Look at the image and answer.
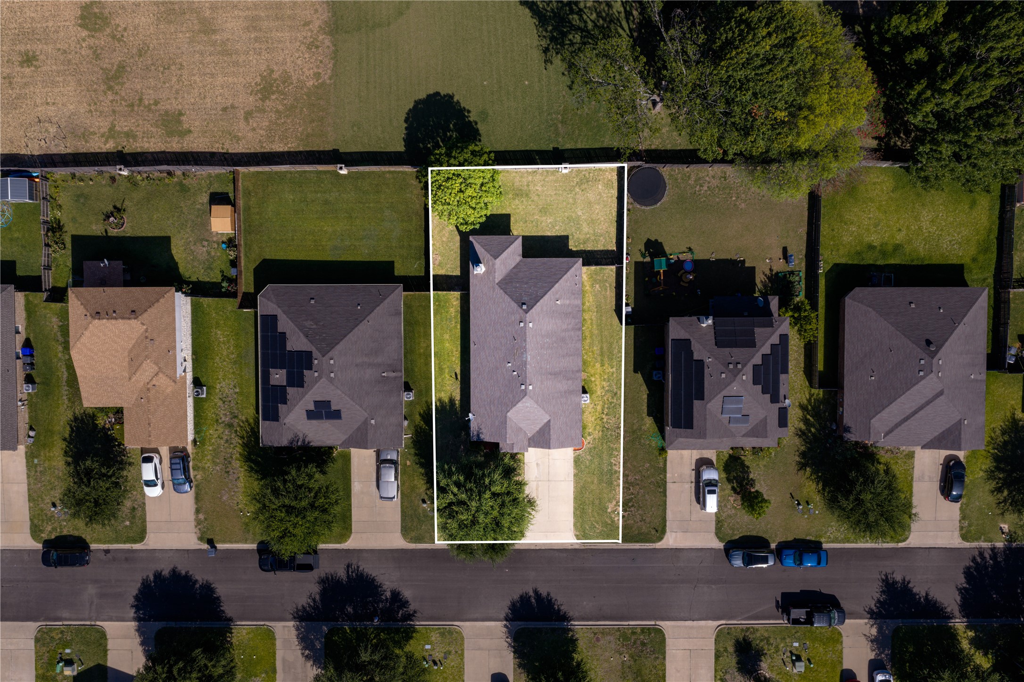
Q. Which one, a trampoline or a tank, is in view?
trampoline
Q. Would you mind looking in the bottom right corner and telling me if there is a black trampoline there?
No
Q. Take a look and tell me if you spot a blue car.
Yes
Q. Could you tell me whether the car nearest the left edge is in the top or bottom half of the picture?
bottom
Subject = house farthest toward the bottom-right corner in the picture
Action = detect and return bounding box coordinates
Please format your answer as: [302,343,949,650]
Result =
[837,286,988,451]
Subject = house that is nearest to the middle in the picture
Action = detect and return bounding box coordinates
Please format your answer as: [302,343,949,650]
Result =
[467,235,582,453]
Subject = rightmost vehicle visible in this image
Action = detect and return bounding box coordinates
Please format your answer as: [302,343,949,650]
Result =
[943,457,969,500]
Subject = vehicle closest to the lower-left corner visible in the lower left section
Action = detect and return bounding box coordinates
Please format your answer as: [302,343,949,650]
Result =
[38,547,90,571]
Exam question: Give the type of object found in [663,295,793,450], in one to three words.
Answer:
house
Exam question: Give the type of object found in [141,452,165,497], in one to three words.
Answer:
car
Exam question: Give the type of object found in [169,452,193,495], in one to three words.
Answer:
car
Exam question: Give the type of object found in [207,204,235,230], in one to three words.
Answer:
shed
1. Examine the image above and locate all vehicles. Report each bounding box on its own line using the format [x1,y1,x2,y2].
[255,550,318,575]
[169,452,193,495]
[780,548,829,571]
[38,547,90,571]
[789,604,849,629]
[943,457,969,500]
[141,452,165,497]
[378,449,400,502]
[697,463,720,510]
[728,548,776,571]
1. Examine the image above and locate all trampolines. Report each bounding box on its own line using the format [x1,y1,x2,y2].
[628,165,669,206]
